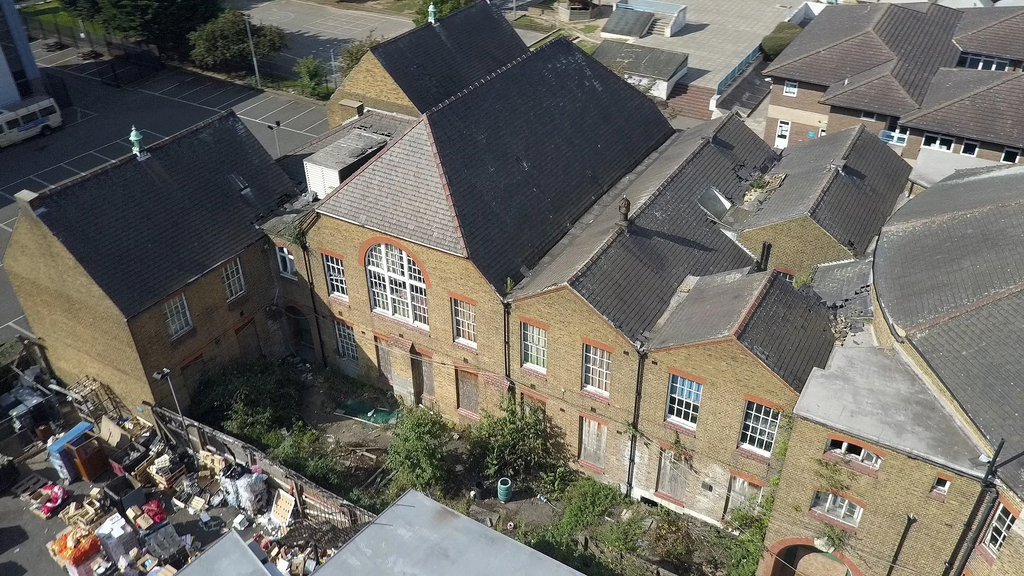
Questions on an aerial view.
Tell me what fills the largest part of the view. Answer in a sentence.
The bulk of the photo consists of buildings.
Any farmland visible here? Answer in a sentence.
No, no farmland is visible.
